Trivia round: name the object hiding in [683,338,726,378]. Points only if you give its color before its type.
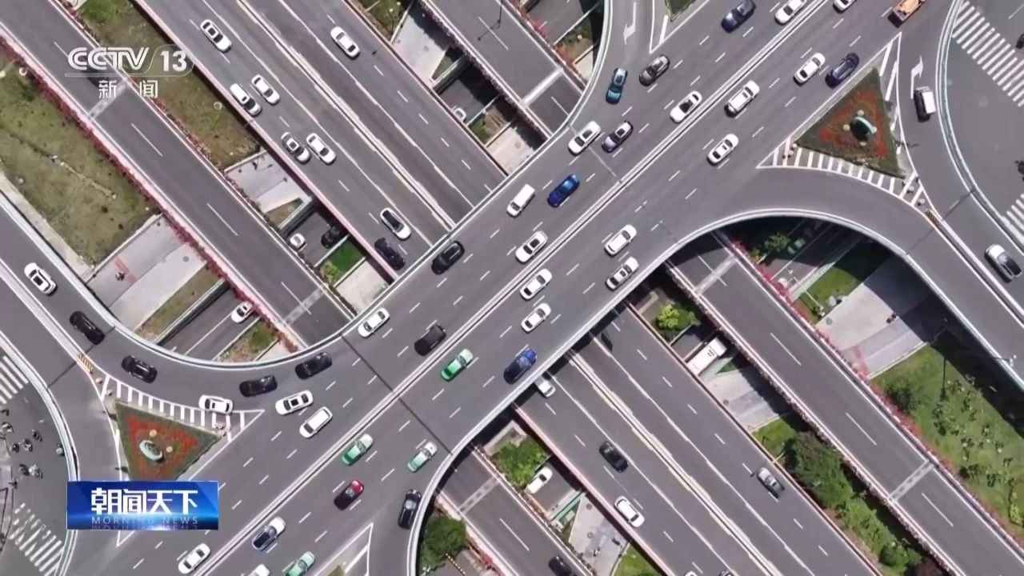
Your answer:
white truck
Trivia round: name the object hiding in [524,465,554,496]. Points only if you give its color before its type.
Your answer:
white car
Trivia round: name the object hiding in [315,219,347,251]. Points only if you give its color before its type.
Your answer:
black car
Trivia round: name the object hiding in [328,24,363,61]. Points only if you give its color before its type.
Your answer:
white car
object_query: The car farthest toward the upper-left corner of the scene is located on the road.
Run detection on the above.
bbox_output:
[199,17,234,54]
